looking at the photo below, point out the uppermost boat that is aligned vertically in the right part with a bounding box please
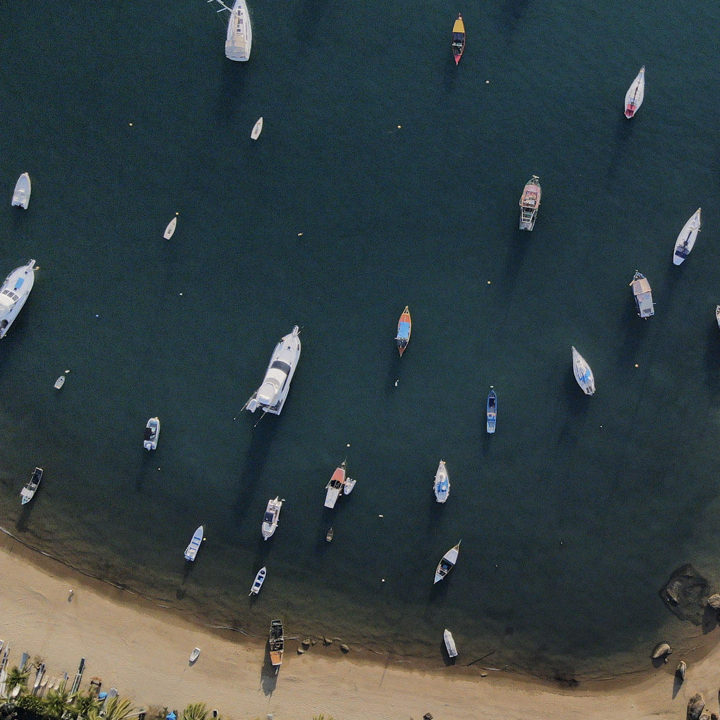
[451,13,465,67]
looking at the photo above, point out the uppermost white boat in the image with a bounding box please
[208,0,251,64]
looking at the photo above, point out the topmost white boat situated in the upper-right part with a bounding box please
[625,65,646,121]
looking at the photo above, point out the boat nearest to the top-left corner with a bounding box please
[13,173,35,211]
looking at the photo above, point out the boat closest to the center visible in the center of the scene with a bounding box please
[393,306,412,356]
